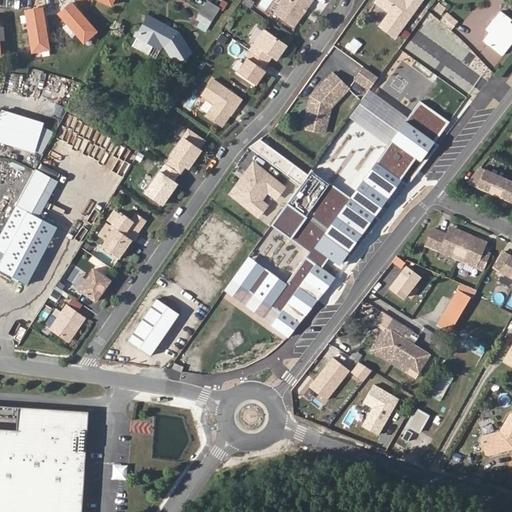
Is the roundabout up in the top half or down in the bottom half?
bottom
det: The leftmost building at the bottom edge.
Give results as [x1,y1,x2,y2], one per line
[0,407,88,512]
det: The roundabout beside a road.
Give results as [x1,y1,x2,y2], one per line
[216,382,288,452]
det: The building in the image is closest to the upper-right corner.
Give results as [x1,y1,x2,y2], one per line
[483,10,512,56]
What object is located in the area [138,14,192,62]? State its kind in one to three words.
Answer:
house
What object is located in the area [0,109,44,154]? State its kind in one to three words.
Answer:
building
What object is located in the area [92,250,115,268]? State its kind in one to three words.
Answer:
swimming pool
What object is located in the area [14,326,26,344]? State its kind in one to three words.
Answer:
vehicle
